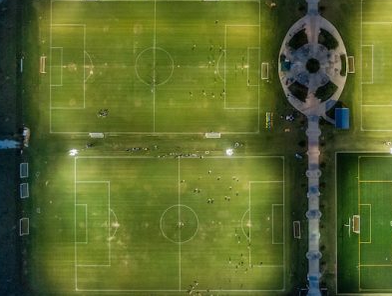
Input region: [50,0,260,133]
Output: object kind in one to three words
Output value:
soccer field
